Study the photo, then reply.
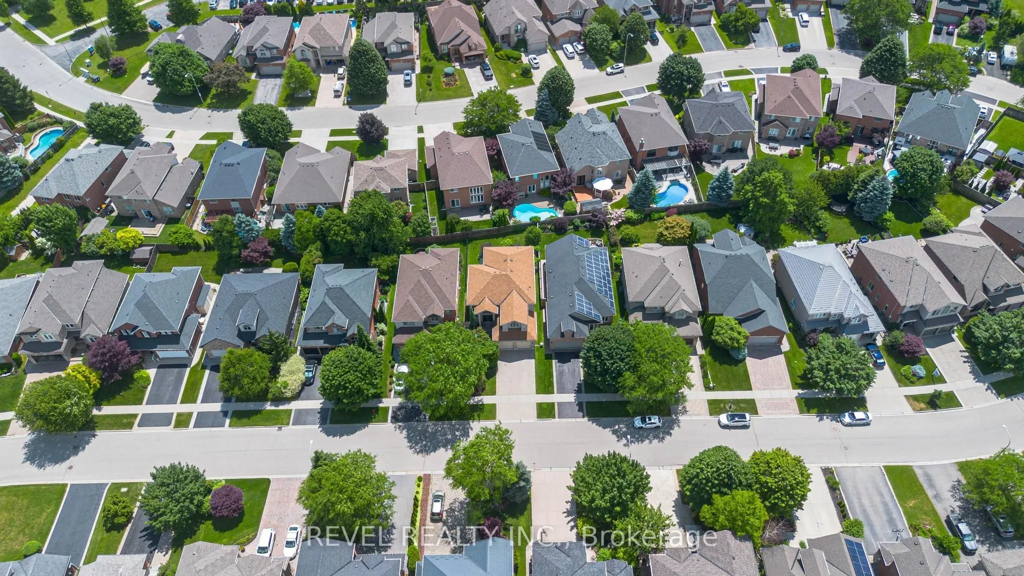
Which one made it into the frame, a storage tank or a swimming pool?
swimming pool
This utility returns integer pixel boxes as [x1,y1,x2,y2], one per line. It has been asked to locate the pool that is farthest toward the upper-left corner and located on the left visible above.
[27,127,66,159]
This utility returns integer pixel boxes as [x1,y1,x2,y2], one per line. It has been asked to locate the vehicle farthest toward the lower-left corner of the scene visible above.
[254,522,276,558]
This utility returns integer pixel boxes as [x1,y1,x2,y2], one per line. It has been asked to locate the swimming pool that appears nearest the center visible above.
[512,203,559,222]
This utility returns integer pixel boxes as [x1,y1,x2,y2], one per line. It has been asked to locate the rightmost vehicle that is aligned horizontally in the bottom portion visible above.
[838,412,874,427]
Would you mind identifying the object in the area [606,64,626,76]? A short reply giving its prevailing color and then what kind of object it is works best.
white vehicle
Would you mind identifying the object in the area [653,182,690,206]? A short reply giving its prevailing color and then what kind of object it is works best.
blue swimming pool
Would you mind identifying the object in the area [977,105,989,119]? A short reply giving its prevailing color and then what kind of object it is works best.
white vehicle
